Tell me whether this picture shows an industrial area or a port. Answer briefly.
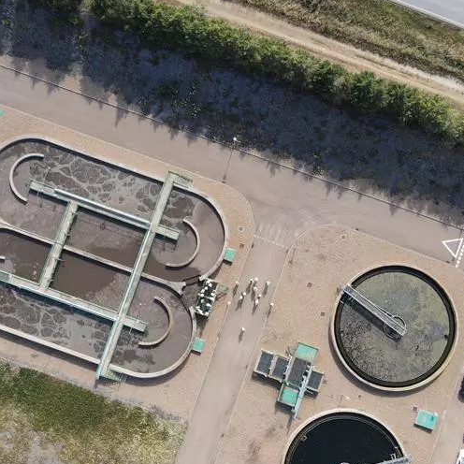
industrial area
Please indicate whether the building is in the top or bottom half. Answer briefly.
bottom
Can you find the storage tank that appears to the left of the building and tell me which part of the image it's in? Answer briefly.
left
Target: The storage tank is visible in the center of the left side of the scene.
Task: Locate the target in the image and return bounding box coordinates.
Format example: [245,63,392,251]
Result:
[0,136,226,384]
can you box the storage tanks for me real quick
[330,264,457,389]
[280,408,414,464]
[0,136,226,384]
